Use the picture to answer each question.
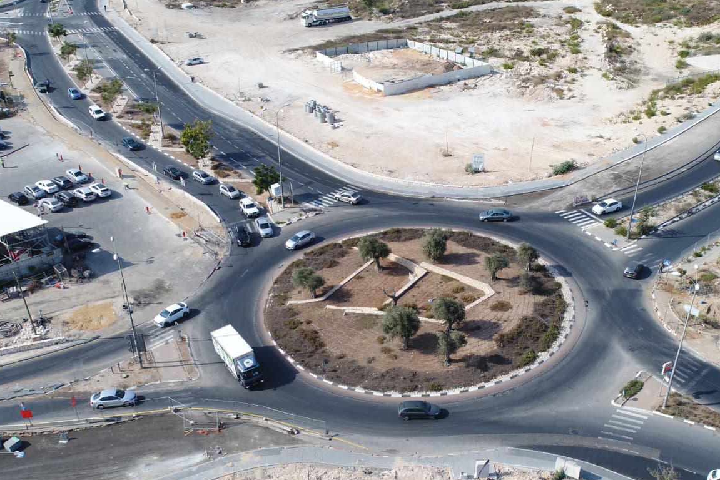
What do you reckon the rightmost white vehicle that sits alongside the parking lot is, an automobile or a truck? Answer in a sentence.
The rightmost white vehicle that sits alongside the parking lot appears to be a truck.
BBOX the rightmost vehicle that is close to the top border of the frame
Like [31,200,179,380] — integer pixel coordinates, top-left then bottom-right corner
[304,7,354,27]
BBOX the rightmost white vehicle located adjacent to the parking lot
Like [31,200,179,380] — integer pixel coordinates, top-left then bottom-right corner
[211,317,263,386]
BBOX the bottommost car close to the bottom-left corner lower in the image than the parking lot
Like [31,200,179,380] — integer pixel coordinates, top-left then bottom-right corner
[89,388,137,410]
